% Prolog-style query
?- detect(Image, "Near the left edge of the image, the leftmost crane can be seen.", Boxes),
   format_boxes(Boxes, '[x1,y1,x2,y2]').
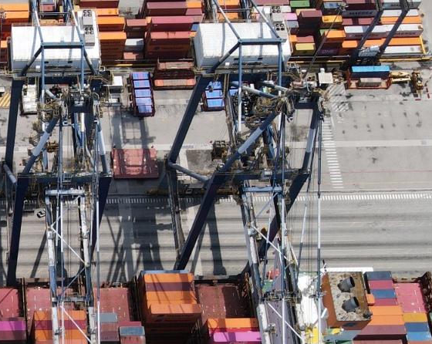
[0,0,120,344]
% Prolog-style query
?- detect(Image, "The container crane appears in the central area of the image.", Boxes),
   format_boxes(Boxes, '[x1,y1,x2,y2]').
[135,0,329,344]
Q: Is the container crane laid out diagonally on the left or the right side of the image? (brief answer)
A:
right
